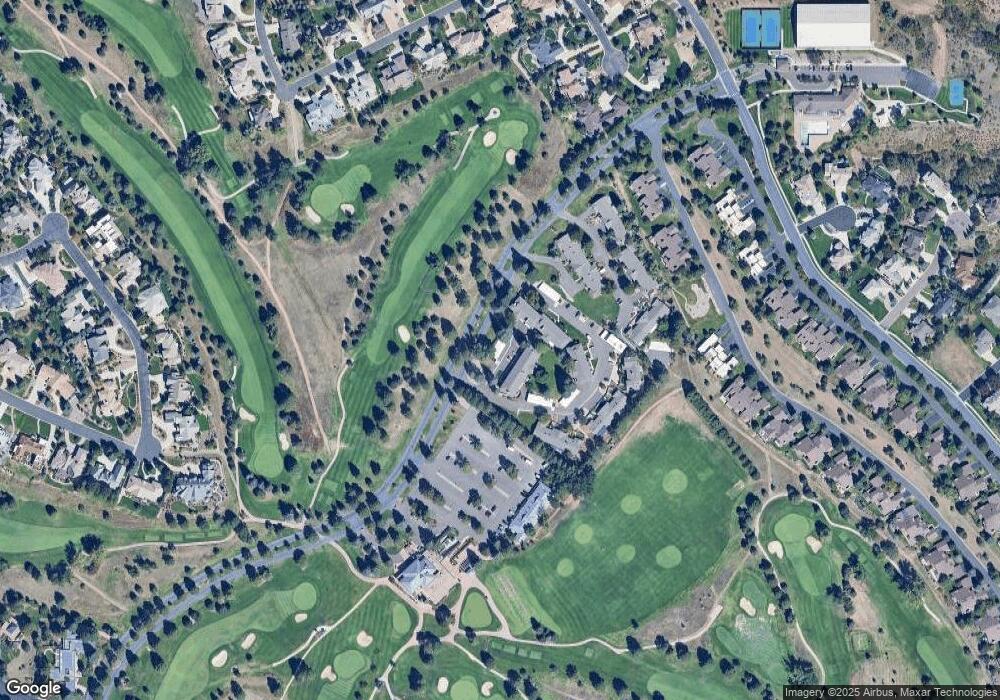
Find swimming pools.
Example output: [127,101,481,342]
[800,120,828,147]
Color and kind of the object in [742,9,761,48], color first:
blue tennis court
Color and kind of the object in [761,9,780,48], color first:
blue tennis court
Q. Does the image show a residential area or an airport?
residential area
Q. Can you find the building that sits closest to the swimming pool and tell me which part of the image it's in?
top right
